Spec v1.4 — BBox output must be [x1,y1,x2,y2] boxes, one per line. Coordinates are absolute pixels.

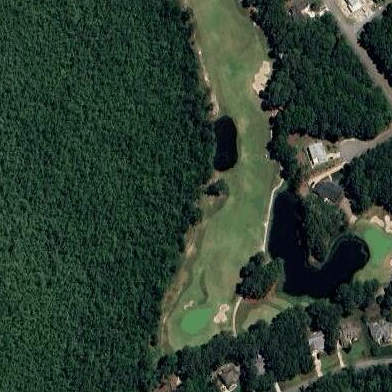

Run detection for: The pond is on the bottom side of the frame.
[267,188,370,298]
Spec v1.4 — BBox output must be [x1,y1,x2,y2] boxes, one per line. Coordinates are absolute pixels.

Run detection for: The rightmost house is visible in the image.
[370,321,392,343]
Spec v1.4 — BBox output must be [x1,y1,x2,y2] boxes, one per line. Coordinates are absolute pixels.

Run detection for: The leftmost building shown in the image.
[217,365,240,386]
